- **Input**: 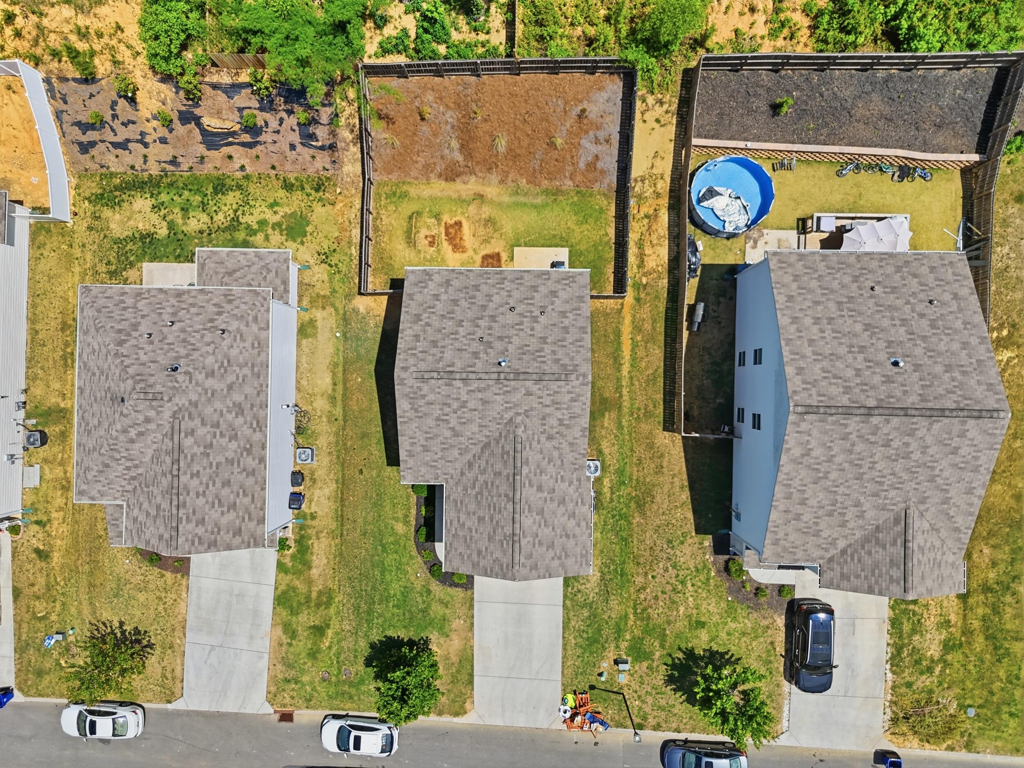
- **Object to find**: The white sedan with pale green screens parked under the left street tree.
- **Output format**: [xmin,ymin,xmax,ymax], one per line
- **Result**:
[62,701,148,745]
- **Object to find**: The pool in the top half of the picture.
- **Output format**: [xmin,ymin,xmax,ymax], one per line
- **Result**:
[688,153,775,241]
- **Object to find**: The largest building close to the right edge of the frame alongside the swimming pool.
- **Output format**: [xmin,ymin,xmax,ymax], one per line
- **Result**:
[729,249,1010,599]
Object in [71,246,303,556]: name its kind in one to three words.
house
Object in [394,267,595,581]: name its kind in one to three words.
house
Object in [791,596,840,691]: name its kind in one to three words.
car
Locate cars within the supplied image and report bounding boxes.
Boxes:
[791,596,840,691]
[661,739,748,768]
[62,701,148,745]
[321,713,400,760]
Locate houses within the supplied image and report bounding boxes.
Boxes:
[71,246,303,556]
[729,249,1010,599]
[394,267,595,581]
[0,188,30,545]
